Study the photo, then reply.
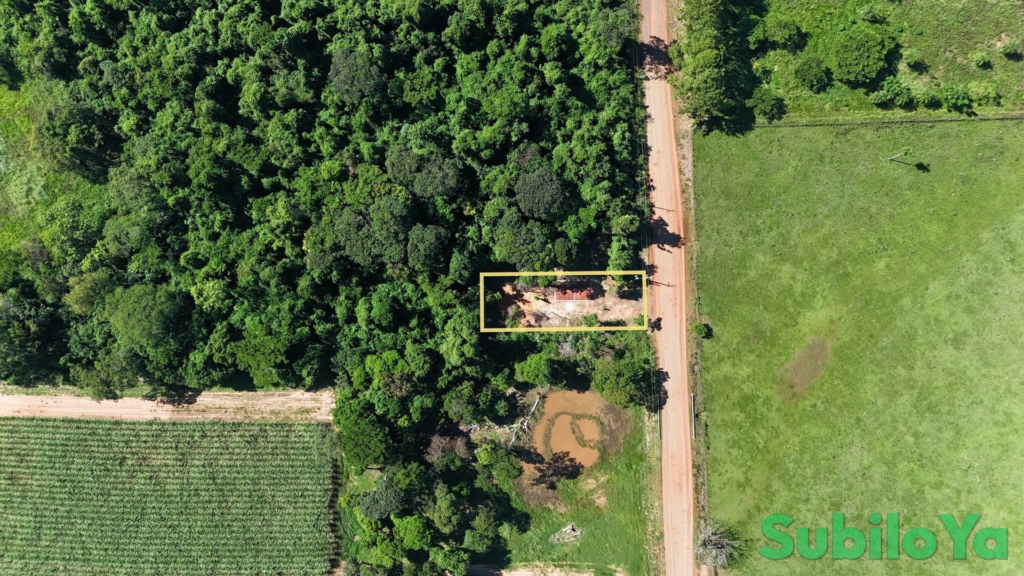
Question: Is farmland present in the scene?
Yes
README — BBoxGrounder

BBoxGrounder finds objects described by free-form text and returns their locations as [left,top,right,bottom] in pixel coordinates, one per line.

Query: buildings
[555,281,594,303]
